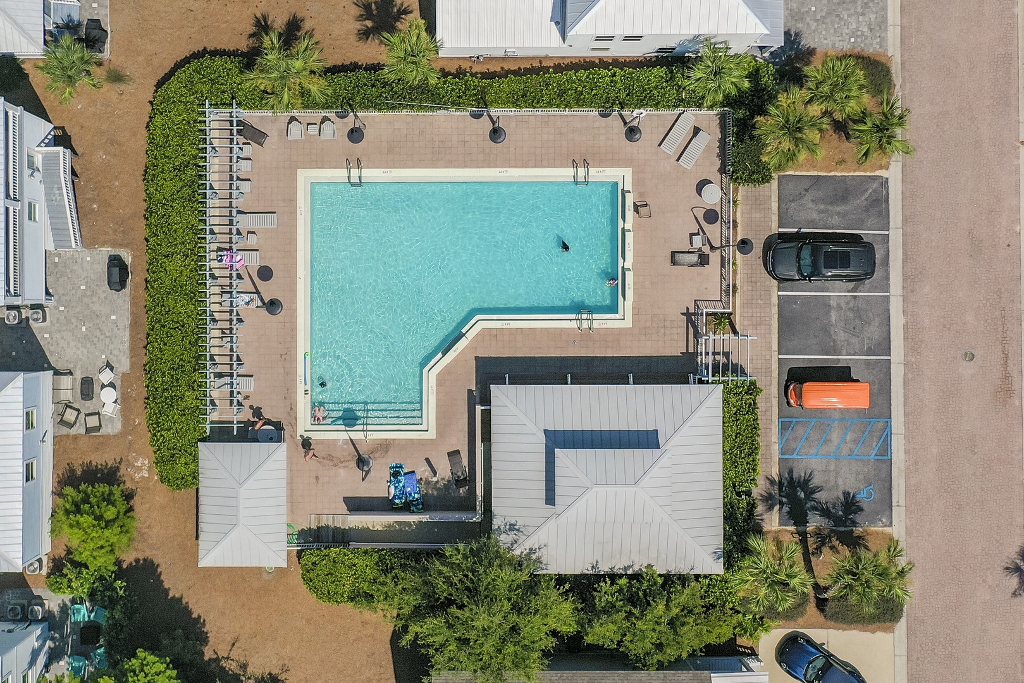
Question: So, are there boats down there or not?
No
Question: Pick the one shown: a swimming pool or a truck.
swimming pool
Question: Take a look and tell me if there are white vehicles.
No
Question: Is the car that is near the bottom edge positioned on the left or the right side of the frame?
right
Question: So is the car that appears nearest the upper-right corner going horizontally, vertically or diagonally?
horizontally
